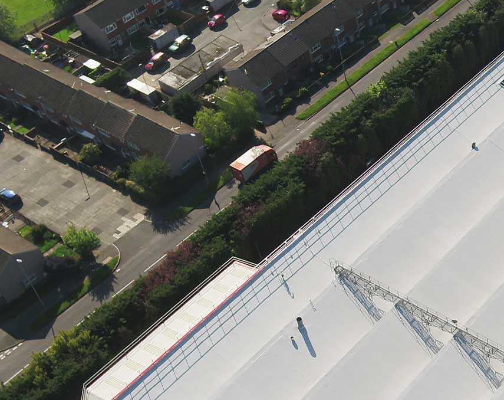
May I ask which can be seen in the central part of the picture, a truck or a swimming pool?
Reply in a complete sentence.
It is a truck that can be seen in the central part of the picture.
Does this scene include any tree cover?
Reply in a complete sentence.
Yes, tree cover can be seen from above here.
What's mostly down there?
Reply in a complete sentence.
The bulk of the photo consists of buildings.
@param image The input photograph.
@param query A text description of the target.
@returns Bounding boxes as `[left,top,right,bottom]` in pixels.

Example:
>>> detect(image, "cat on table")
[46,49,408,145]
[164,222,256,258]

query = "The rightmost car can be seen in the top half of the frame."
[268,6,293,23]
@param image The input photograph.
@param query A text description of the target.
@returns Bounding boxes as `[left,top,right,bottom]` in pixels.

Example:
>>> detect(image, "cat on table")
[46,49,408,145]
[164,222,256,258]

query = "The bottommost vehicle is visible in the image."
[0,190,26,207]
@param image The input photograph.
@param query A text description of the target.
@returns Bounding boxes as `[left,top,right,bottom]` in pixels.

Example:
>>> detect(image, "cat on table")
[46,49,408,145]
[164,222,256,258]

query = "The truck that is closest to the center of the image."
[226,142,276,183]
